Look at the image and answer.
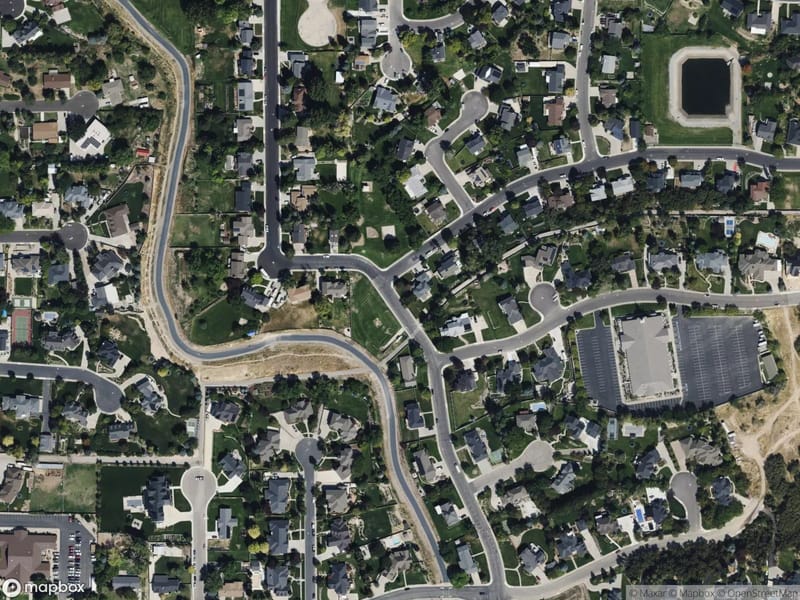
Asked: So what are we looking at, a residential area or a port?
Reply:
residential area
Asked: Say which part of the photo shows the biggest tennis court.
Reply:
left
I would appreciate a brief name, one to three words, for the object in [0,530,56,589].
building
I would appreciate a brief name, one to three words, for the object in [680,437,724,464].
house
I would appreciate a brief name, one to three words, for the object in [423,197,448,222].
house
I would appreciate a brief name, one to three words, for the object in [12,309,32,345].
tennis court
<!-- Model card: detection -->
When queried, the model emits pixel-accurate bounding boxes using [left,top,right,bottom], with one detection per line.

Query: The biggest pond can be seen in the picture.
[670,46,742,128]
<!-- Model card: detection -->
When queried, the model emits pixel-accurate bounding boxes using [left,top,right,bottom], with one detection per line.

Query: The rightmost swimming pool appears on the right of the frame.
[757,231,778,253]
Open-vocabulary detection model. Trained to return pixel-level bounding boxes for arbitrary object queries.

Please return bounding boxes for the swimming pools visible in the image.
[41,312,59,323]
[381,533,411,548]
[757,231,778,253]
[635,504,647,530]
[123,496,144,512]
[530,402,546,412]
